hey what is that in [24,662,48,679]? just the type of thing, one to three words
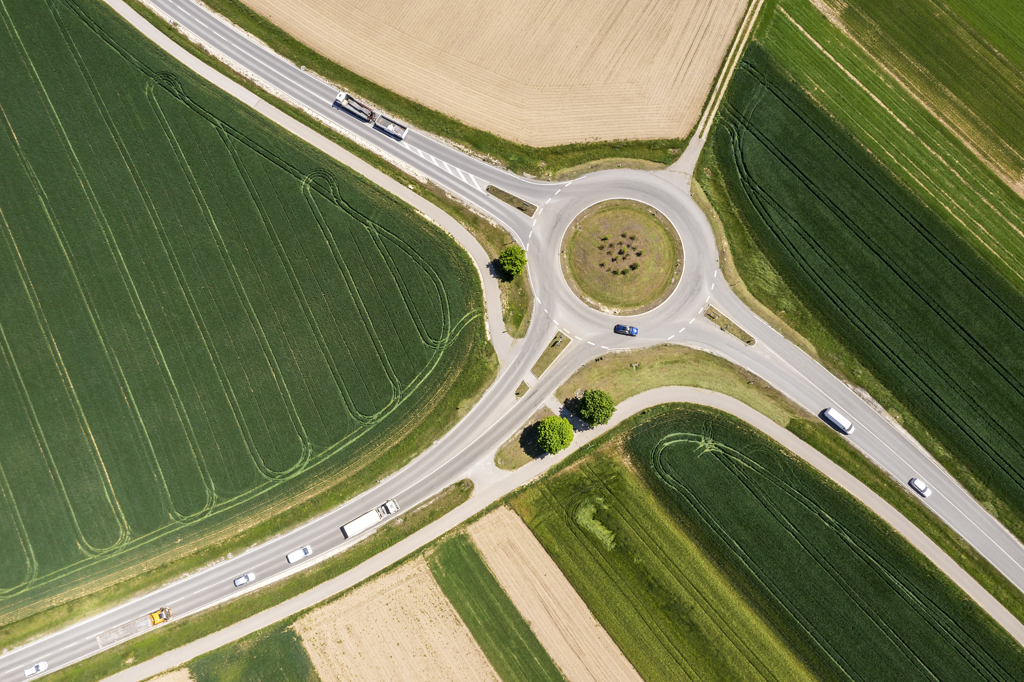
car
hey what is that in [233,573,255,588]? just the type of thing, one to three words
car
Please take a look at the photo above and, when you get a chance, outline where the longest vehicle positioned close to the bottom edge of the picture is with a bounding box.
[97,605,175,648]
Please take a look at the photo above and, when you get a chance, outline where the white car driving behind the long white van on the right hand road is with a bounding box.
[908,477,933,497]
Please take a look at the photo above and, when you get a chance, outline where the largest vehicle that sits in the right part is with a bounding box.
[823,408,856,433]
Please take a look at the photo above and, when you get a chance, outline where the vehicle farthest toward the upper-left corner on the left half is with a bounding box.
[332,86,377,121]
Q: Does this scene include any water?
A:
No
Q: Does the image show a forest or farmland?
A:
farmland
